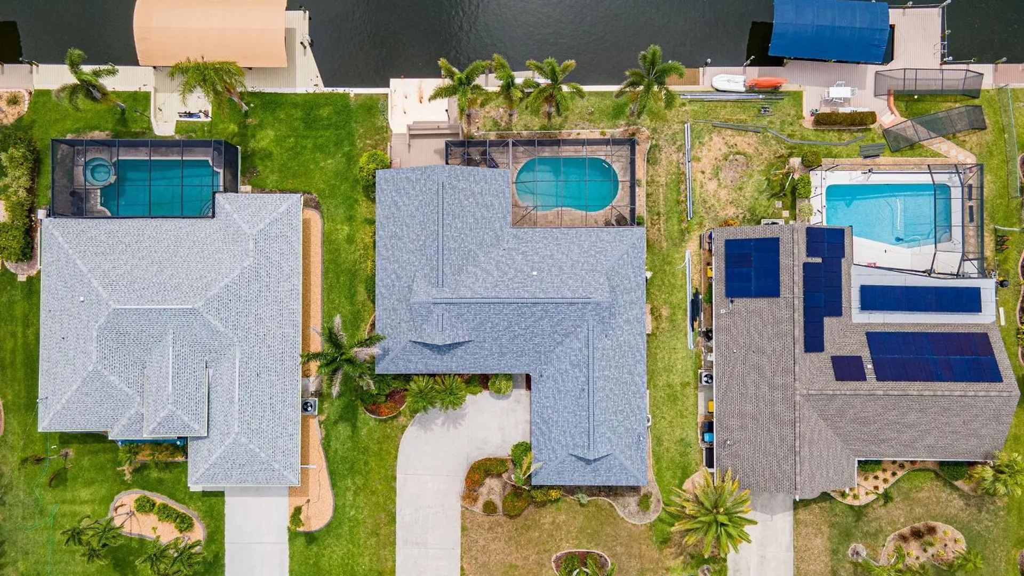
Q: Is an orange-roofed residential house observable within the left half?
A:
No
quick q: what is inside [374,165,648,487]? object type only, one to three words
house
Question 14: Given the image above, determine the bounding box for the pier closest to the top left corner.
[0,62,34,84]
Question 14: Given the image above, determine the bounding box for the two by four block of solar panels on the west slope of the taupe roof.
[725,238,781,297]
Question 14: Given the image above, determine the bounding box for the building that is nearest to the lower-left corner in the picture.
[38,191,316,488]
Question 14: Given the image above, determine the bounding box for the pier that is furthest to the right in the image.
[993,64,1024,84]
